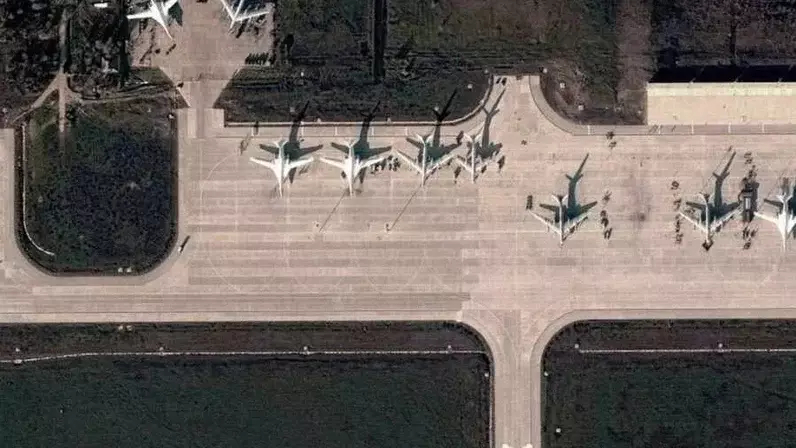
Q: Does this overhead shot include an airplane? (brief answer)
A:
Yes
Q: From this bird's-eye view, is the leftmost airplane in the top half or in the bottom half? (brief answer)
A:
top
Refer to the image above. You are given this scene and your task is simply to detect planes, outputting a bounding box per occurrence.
[125,0,173,40]
[396,128,453,182]
[322,139,385,200]
[444,124,501,180]
[533,186,591,238]
[756,187,796,247]
[220,0,270,30]
[680,188,738,241]
[252,139,315,201]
